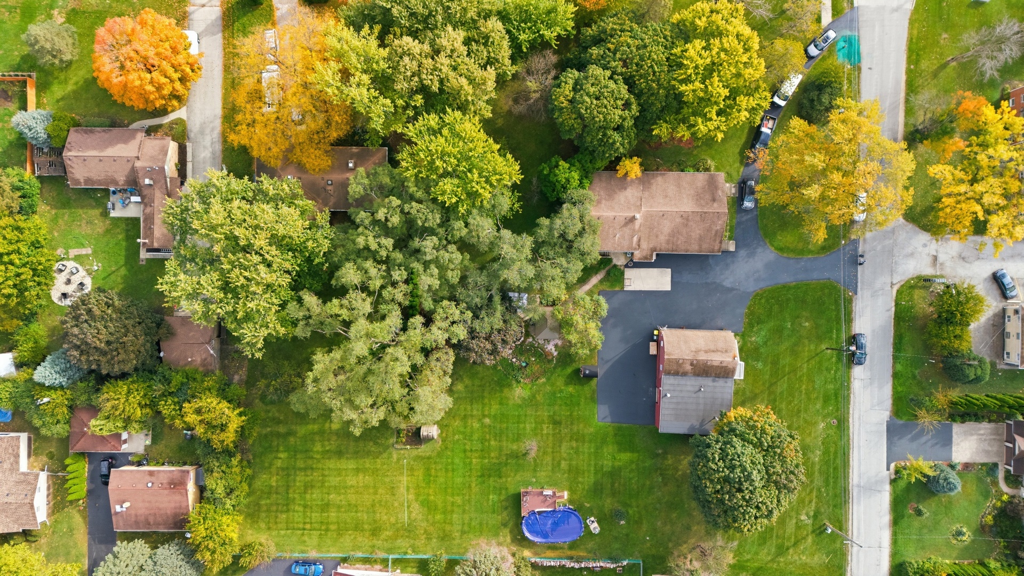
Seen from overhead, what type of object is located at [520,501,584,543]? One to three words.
swimming pool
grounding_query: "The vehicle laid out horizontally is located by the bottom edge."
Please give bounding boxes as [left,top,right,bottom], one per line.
[292,560,325,575]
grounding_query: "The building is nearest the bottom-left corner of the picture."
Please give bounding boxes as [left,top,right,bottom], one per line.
[0,430,48,531]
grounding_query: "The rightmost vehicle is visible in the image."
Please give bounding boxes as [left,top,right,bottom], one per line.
[992,268,1017,300]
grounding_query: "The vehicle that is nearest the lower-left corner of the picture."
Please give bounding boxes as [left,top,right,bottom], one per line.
[98,456,116,486]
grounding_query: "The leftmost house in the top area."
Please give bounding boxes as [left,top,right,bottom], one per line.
[63,128,181,264]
